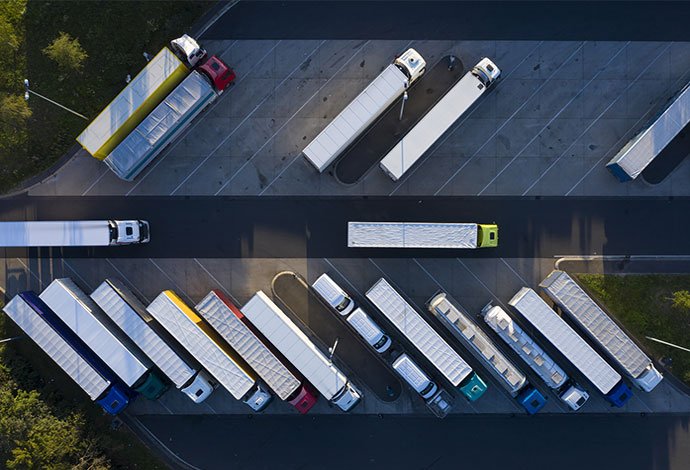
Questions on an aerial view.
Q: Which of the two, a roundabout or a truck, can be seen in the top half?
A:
truck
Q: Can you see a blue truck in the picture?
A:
Yes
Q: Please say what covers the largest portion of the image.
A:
paved ground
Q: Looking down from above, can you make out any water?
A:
No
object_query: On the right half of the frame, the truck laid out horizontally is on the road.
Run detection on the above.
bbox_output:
[347,222,497,250]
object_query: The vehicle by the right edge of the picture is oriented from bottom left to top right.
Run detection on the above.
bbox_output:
[605,78,690,182]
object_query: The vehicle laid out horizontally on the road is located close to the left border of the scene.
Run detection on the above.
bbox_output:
[0,220,150,248]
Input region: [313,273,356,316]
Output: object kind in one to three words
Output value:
van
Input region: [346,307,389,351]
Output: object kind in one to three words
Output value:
van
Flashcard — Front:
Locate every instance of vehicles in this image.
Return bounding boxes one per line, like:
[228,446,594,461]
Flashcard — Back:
[346,307,389,351]
[379,56,502,182]
[303,50,426,172]
[241,290,365,415]
[365,277,488,401]
[313,273,356,316]
[147,290,276,415]
[39,277,172,402]
[310,269,454,416]
[0,220,150,248]
[538,270,662,395]
[507,287,634,408]
[391,351,435,396]
[196,290,320,415]
[605,78,690,182]
[2,291,137,415]
[76,33,208,160]
[347,222,497,250]
[424,289,546,411]
[476,300,586,411]
[105,57,237,180]
[89,279,219,404]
